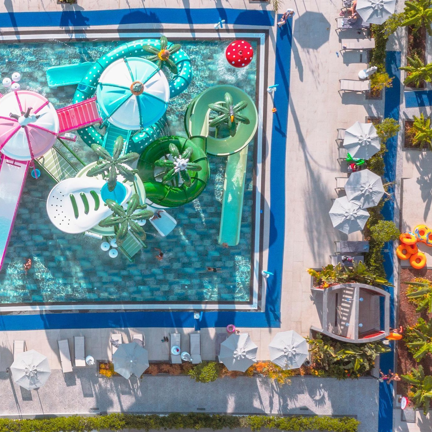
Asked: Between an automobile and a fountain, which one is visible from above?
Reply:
fountain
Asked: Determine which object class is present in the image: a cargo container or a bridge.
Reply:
bridge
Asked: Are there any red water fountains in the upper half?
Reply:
Yes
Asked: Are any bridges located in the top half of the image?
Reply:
Yes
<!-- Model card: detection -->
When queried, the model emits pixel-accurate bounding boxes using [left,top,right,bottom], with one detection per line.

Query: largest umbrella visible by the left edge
[9,347,50,389]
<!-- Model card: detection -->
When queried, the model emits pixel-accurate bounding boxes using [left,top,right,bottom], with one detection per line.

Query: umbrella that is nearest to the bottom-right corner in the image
[262,327,308,371]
